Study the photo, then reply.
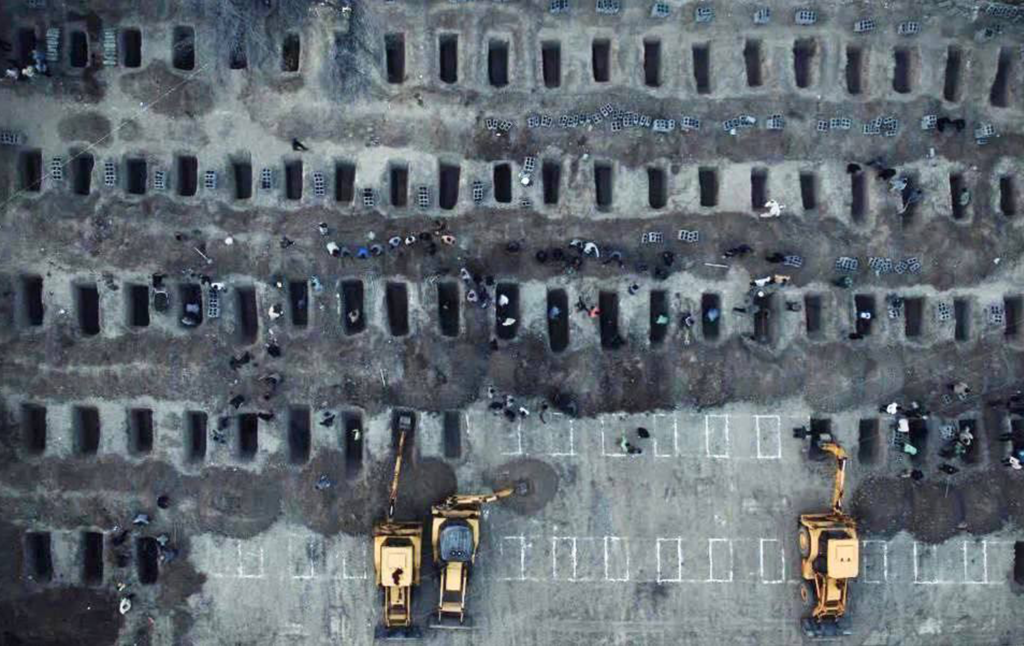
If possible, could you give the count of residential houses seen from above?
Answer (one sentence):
No residential houses are visible.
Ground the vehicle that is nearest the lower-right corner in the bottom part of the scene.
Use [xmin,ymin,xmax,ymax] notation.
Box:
[801,430,860,642]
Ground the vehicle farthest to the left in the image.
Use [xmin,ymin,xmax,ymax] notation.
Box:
[374,413,427,640]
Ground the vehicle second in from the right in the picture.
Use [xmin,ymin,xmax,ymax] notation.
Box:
[430,479,532,625]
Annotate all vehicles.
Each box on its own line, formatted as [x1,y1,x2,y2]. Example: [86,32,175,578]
[374,413,427,640]
[801,430,860,642]
[430,479,532,625]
